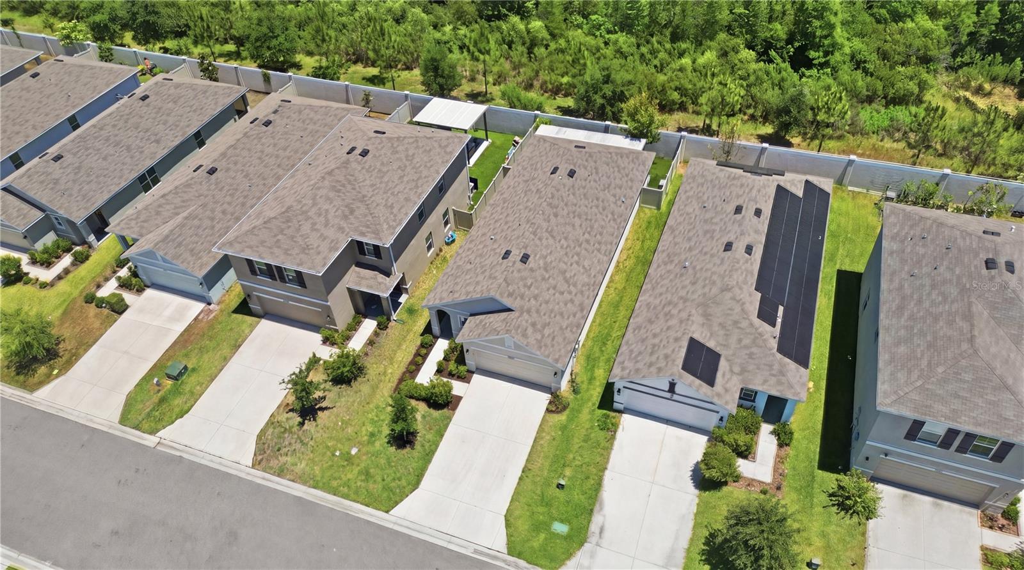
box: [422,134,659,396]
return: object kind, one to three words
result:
house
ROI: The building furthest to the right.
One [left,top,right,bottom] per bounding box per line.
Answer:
[859,202,1024,512]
